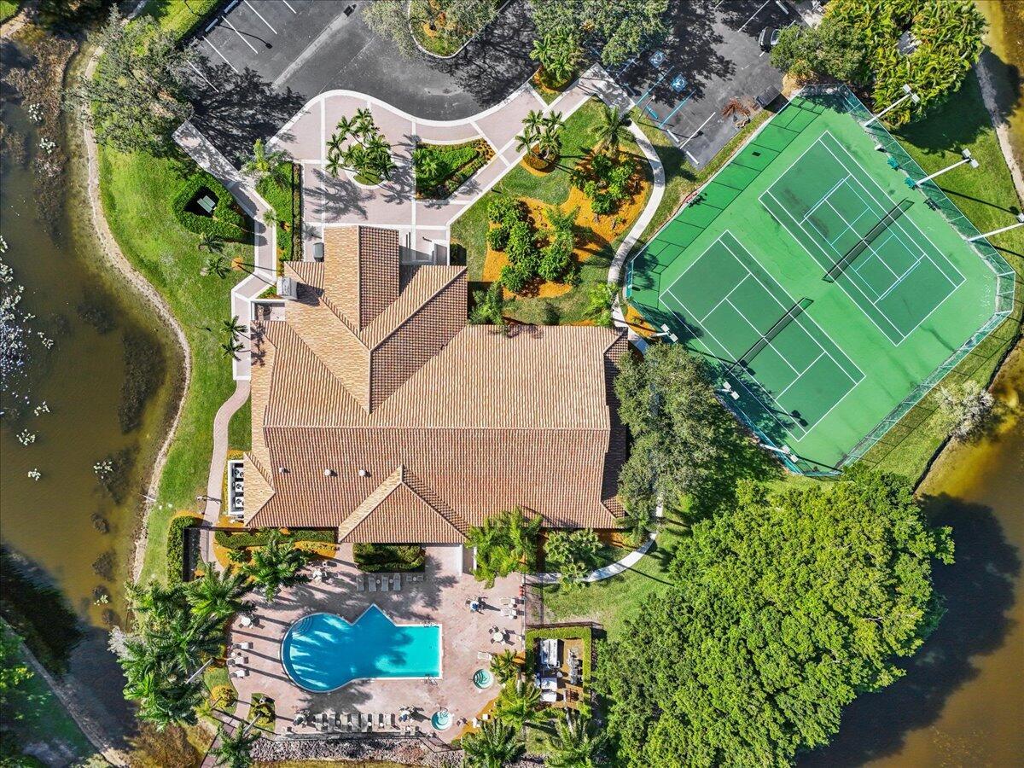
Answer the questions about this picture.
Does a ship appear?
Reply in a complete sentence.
No, there is no ship in the image.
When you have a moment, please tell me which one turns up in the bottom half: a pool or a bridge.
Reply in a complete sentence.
Visible in the bottom half is a pool.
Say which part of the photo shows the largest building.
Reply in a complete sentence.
You can find the largest building in the center area of the picture.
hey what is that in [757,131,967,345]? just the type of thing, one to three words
tennis court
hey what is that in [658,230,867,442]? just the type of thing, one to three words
tennis court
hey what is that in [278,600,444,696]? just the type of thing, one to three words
swimming pool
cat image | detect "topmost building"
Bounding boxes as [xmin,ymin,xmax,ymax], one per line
[242,226,628,543]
